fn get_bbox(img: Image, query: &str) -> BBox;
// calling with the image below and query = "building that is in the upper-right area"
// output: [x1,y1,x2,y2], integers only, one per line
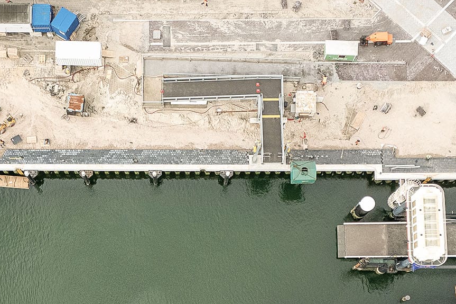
[321,40,358,65]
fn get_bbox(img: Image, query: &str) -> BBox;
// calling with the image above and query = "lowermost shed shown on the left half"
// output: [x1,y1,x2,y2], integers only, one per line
[68,95,90,120]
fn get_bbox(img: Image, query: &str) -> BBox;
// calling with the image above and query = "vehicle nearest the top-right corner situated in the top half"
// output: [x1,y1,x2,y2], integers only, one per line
[357,28,397,47]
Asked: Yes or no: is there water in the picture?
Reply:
Yes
